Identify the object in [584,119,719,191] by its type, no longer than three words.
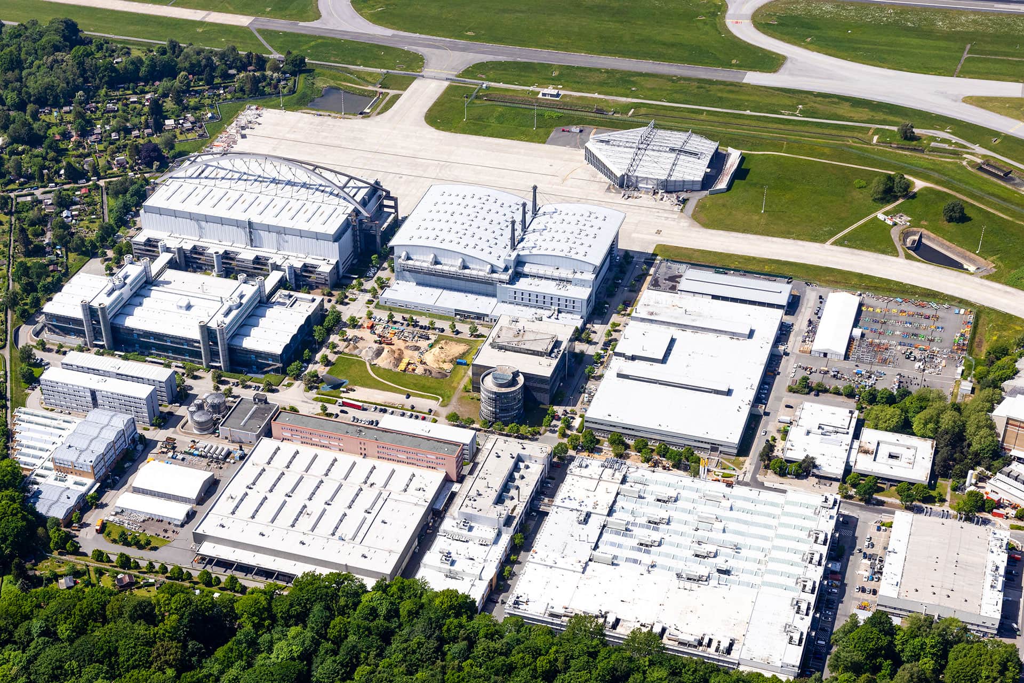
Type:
hangar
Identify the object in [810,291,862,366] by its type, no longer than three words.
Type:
tent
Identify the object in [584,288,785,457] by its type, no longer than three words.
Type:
building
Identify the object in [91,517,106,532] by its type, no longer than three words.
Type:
vehicle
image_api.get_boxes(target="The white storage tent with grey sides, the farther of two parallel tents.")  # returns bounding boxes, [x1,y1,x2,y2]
[132,461,215,506]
